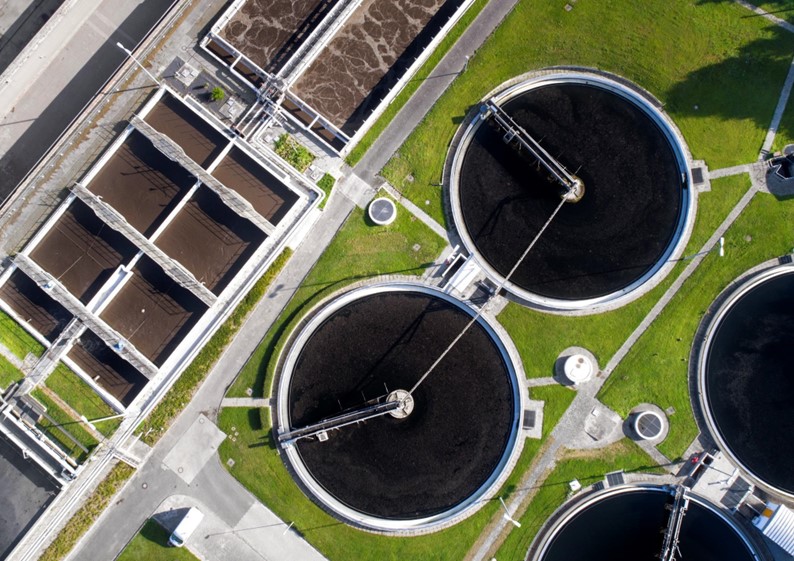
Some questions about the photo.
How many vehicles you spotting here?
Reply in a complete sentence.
The photo contains exactly 1 vehicle.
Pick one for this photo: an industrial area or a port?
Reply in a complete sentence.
It's an industrial area.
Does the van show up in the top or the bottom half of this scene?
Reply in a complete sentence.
The van is in the bottom half of the image.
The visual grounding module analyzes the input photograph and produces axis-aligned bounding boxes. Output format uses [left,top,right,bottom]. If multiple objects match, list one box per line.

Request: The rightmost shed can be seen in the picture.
[756,502,794,553]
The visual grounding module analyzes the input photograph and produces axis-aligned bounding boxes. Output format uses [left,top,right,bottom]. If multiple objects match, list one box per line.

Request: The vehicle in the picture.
[169,504,206,549]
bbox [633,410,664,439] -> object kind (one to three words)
storage tank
